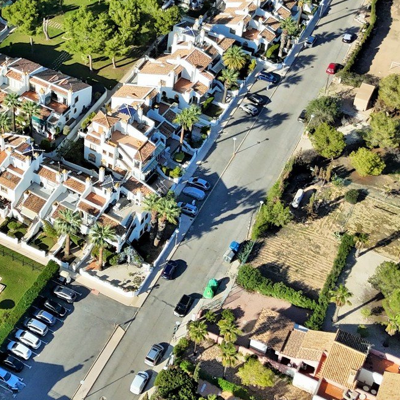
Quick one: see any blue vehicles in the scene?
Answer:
Yes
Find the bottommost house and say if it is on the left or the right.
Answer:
right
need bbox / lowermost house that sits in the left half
[0,130,142,276]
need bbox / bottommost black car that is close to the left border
[0,351,26,372]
